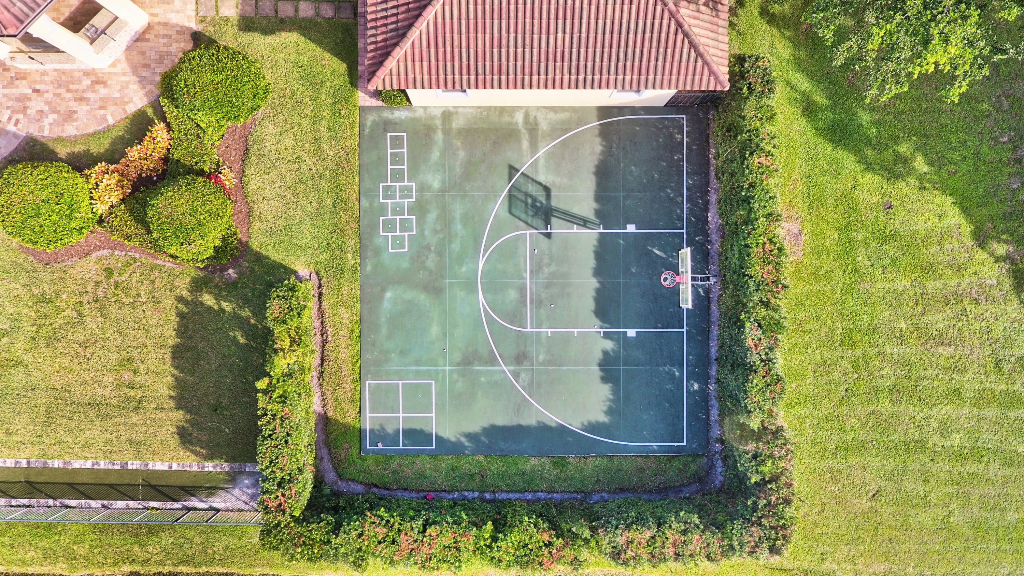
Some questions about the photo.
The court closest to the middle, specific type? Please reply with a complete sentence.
Looking closely, the court closest to the middle is a basketball court.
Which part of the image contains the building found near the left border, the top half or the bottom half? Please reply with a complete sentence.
The building found near the left border sits in the top half of the picture.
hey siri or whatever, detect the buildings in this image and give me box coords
[0,0,147,68]
[363,0,736,106]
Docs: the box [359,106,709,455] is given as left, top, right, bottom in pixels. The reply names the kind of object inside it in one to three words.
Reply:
basketball court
